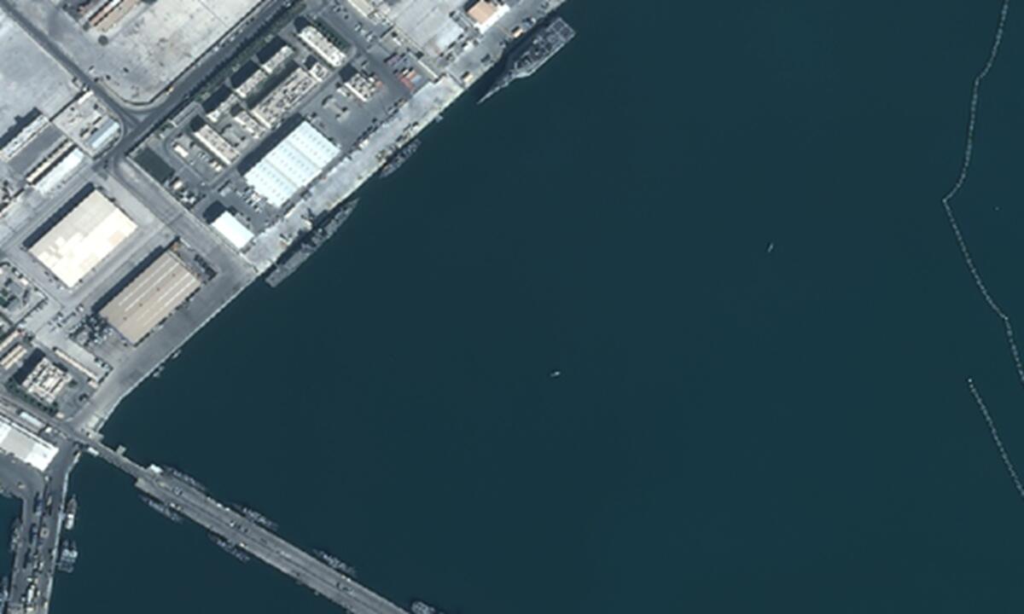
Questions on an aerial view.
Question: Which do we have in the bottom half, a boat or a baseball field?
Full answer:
Visible in the bottom half is a boat.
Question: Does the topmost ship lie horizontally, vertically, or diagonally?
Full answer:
The topmost ship is oriented diagonally.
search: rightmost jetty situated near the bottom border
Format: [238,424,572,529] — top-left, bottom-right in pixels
[136,469,408,614]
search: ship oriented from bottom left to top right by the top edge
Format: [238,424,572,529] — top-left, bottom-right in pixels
[476,17,575,103]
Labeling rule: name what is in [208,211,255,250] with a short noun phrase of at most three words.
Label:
shed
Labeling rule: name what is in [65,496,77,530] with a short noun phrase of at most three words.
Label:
boat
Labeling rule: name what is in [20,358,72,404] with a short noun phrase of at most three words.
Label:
building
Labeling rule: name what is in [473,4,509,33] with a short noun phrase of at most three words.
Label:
building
